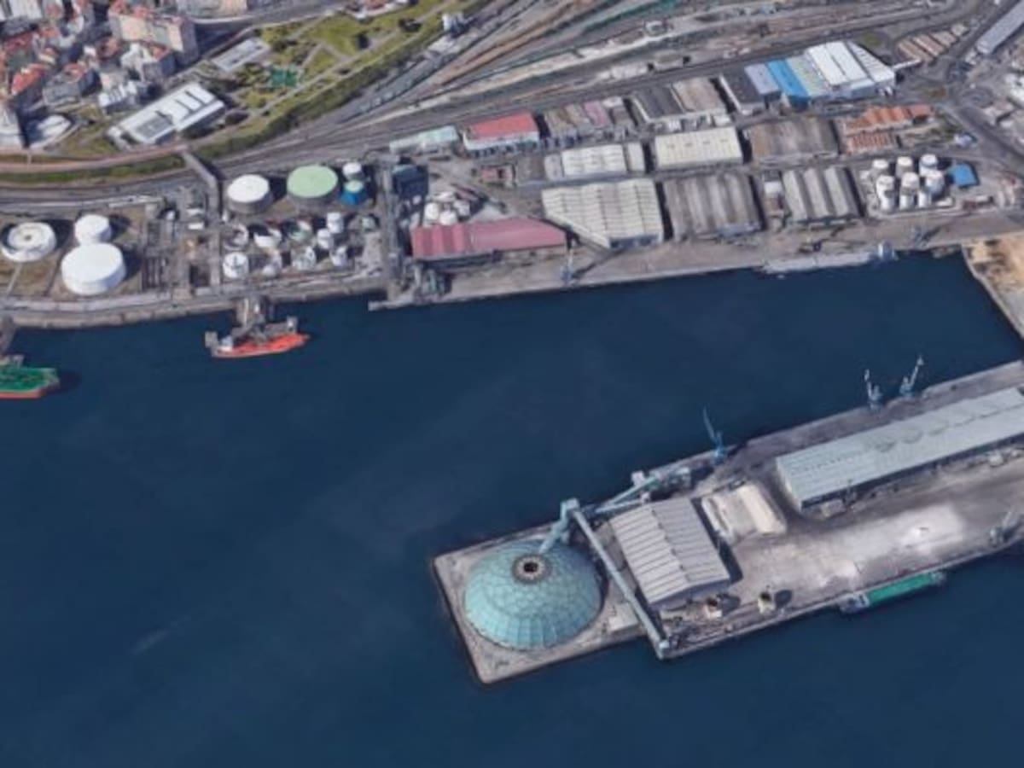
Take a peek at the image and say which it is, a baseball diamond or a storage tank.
storage tank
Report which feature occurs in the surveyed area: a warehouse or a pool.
warehouse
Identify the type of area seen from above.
port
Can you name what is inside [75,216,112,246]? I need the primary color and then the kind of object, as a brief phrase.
white storage tank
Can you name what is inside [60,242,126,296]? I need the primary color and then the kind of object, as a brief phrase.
white storage tank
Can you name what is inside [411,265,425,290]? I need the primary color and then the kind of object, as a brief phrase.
gray work vehicle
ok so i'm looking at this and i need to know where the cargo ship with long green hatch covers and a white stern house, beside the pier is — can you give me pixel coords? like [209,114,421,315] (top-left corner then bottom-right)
[839,571,947,617]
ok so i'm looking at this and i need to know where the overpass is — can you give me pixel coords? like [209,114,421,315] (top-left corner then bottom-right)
[177,143,219,205]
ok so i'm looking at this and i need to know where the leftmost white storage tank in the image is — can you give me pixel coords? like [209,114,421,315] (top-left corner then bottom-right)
[1,221,59,268]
